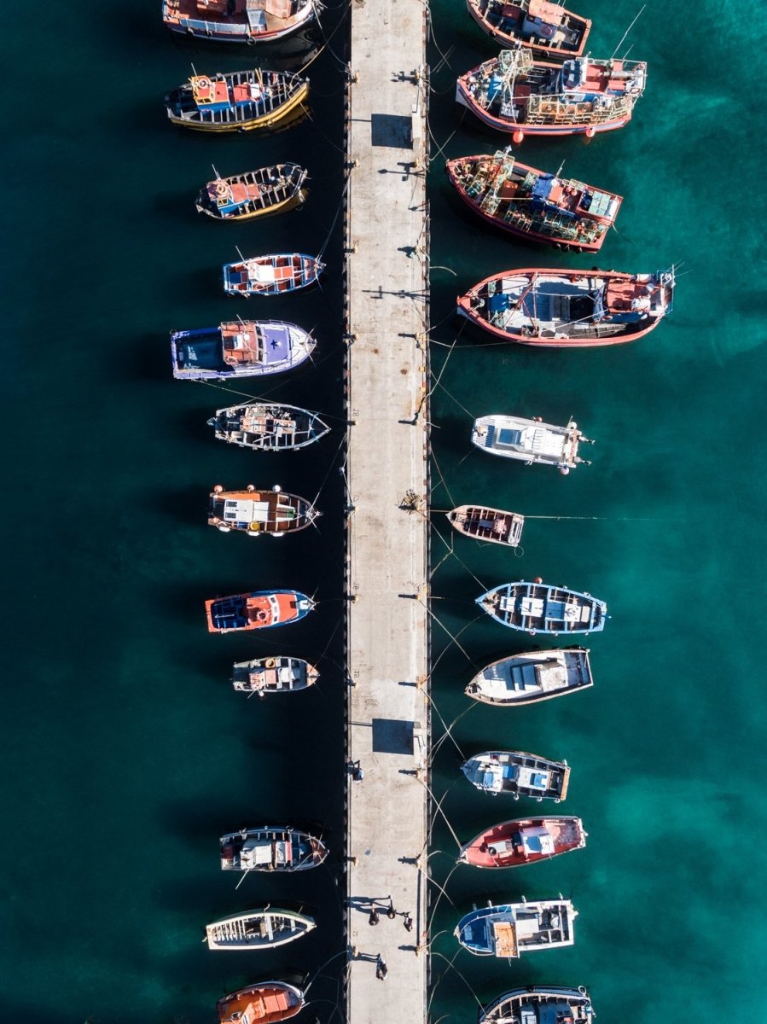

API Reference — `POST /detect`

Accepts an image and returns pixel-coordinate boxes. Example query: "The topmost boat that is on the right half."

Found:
[466,0,592,62]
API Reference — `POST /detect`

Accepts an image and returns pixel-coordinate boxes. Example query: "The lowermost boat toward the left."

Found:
[216,969,305,1024]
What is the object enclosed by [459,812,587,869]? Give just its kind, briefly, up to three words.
boat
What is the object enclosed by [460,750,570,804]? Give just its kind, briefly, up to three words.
boat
